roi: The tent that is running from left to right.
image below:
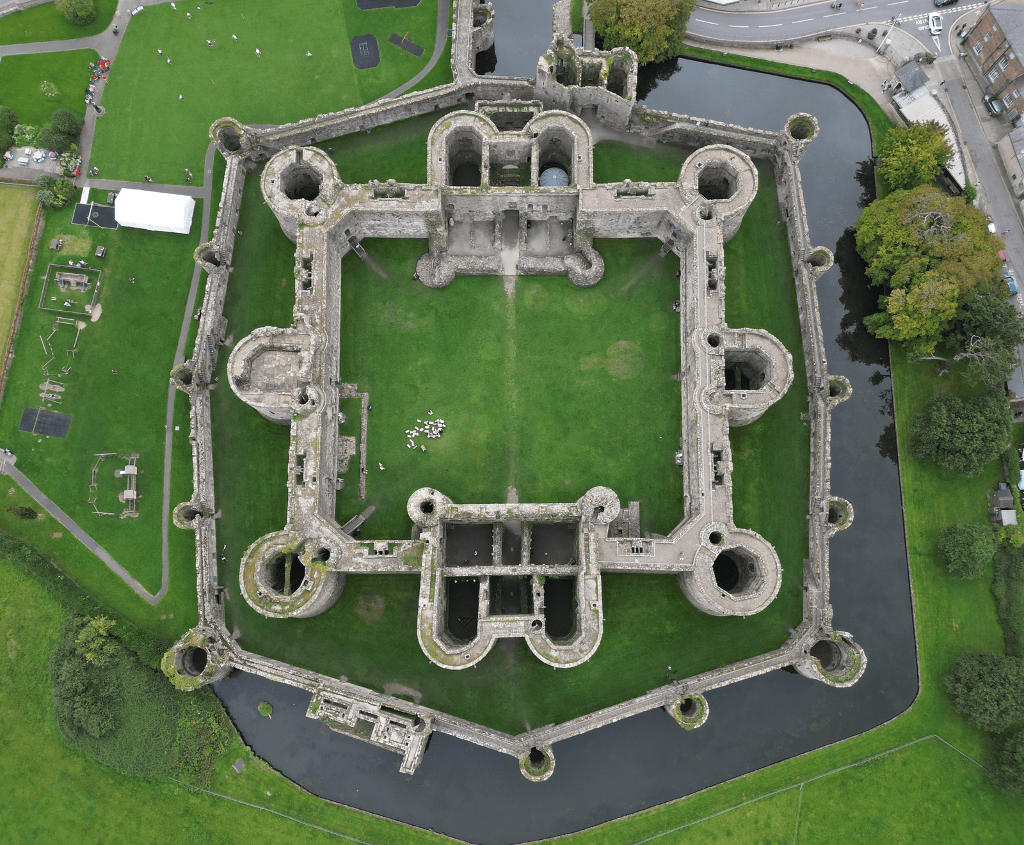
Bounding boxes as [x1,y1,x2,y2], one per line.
[115,190,199,239]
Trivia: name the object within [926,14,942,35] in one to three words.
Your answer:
car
